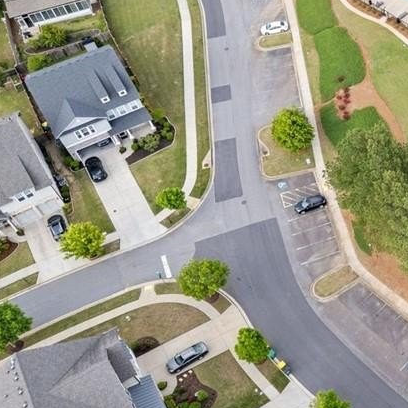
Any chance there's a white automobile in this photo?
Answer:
Yes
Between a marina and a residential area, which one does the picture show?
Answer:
residential area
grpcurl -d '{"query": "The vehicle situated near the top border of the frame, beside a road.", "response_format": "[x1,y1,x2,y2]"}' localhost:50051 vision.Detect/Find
[260,20,289,36]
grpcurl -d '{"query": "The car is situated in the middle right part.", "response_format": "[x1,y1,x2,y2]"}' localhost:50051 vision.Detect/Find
[293,191,327,214]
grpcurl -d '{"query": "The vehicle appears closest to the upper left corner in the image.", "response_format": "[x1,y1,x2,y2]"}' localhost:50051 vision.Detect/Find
[80,154,109,183]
